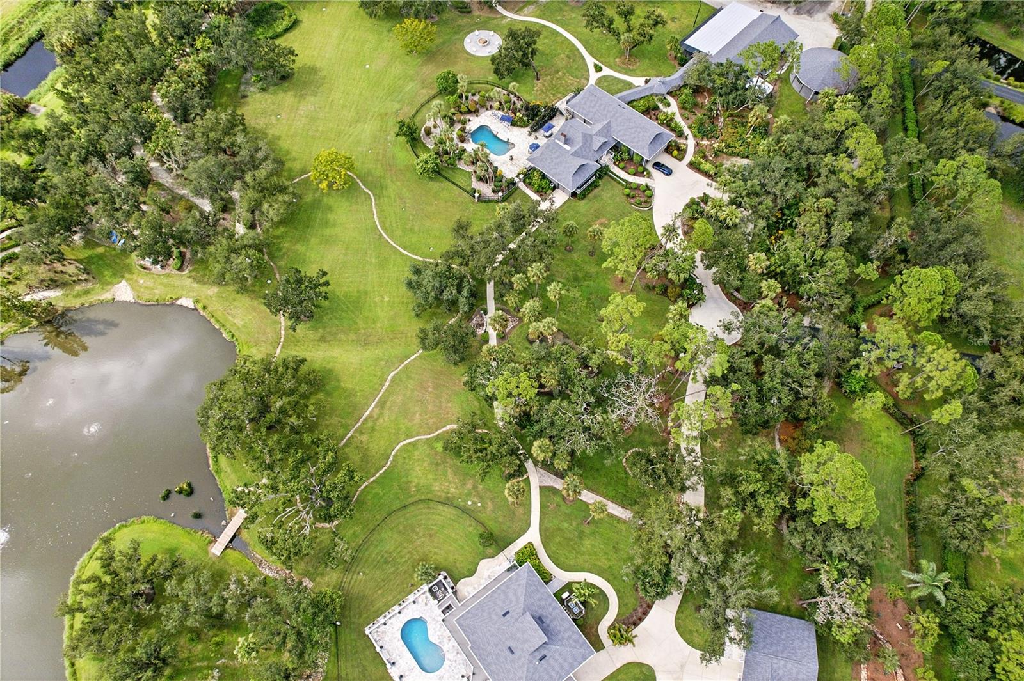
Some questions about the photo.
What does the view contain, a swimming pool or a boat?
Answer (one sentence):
I can see a swimming pool in this picture.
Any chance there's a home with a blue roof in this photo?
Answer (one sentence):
No, the picture doesn't show any home with a blue roof.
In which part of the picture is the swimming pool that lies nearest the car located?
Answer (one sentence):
The swimming pool that lies nearest the car sits in the top section of the image.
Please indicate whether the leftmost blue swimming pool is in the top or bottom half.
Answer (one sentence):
The bottom half of the photo is where the leftmost blue swimming pool is.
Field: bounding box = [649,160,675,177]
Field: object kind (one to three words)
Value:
car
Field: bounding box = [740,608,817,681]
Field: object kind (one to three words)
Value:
building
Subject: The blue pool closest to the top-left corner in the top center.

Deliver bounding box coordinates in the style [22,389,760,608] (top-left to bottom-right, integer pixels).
[469,123,516,157]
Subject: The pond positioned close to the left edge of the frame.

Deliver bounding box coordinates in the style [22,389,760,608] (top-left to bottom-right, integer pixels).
[0,303,252,681]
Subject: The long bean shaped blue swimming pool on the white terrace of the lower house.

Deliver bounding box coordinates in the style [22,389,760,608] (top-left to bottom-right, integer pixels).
[399,616,447,676]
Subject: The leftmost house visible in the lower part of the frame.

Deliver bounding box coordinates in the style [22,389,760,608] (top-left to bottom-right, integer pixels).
[454,562,597,681]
